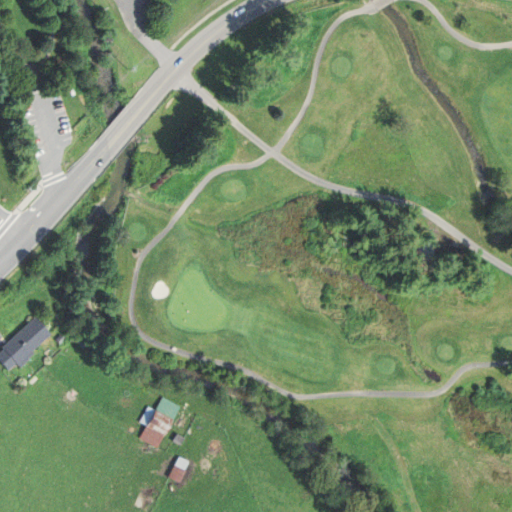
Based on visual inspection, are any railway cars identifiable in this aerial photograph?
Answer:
No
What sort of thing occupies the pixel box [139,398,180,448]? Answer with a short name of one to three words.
barn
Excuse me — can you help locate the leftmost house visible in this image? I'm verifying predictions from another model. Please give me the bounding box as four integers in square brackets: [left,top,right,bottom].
[0,318,50,372]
